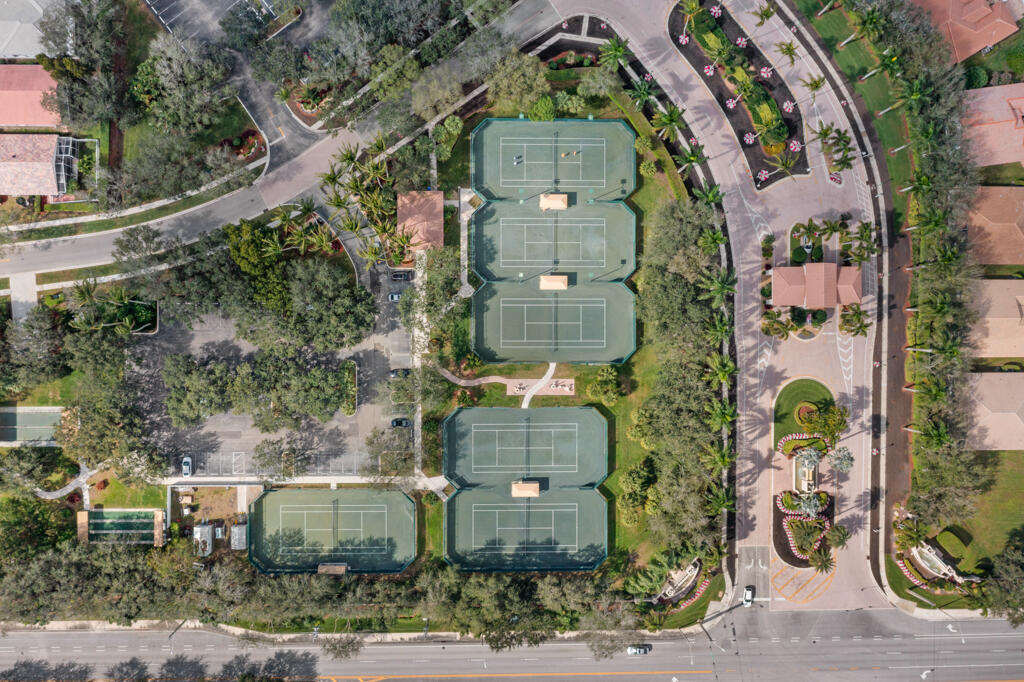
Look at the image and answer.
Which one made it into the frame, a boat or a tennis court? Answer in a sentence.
Looking from above, you can make out a tennis court.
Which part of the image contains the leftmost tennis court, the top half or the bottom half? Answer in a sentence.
Seen from above, the leftmost tennis court lies in the bottom half of the view.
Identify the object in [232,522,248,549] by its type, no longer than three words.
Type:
shed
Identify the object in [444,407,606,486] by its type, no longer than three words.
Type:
tennis court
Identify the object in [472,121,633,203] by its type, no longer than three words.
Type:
tennis court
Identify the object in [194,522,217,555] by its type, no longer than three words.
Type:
shed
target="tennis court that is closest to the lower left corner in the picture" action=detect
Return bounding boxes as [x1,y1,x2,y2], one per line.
[252,489,415,569]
